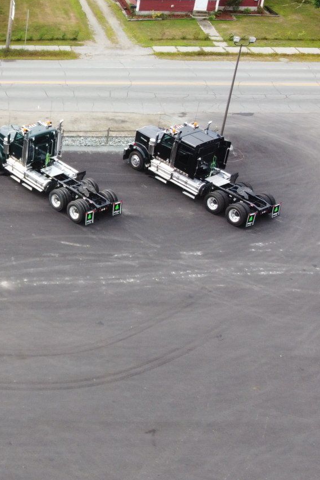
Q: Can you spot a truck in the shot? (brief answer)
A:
Yes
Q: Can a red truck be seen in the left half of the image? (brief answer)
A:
No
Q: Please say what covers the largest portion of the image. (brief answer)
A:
paved ground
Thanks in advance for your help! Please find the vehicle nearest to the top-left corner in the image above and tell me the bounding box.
[0,112,127,224]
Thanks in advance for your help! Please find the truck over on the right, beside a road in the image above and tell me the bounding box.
[125,107,287,228]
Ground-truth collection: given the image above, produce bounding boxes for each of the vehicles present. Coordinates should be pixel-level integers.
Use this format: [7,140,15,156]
[125,107,287,228]
[0,112,127,224]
